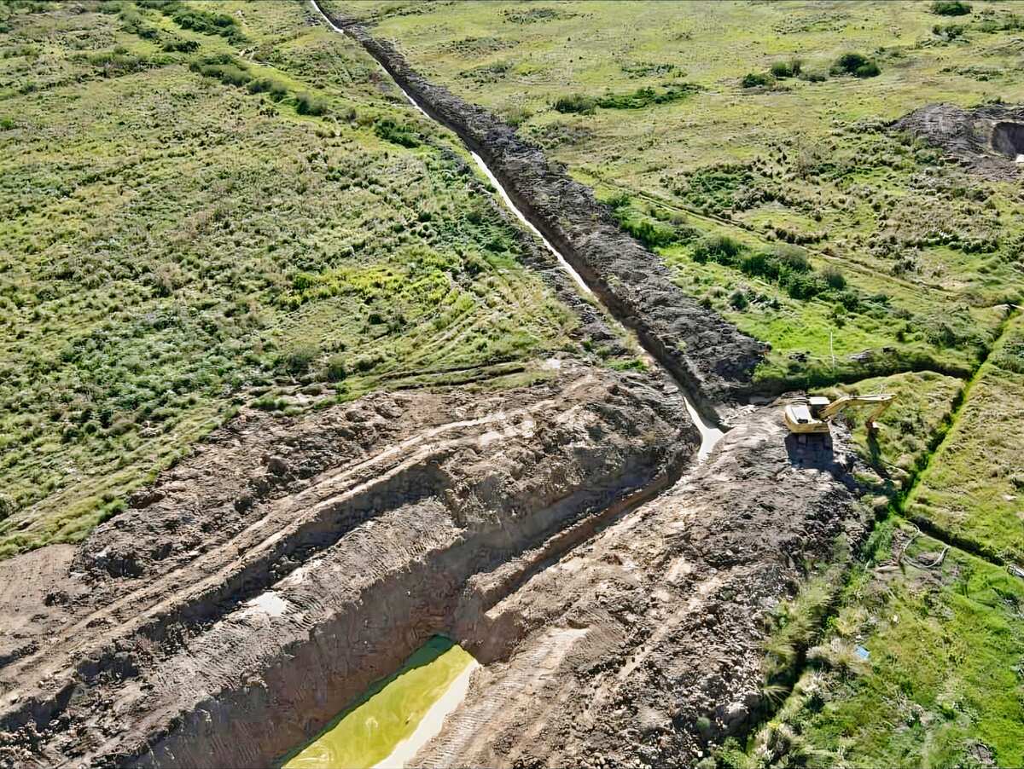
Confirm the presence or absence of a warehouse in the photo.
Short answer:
No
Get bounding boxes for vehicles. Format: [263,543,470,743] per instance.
[784,400,893,442]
